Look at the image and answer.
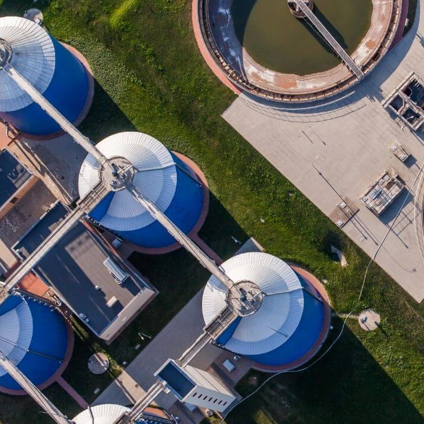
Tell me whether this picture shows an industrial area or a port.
industrial area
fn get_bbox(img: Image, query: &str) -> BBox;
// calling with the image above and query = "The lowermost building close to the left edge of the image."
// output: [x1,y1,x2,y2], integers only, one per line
[12,201,156,342]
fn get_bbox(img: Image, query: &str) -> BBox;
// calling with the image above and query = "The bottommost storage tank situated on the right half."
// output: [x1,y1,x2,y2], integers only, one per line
[198,250,330,371]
